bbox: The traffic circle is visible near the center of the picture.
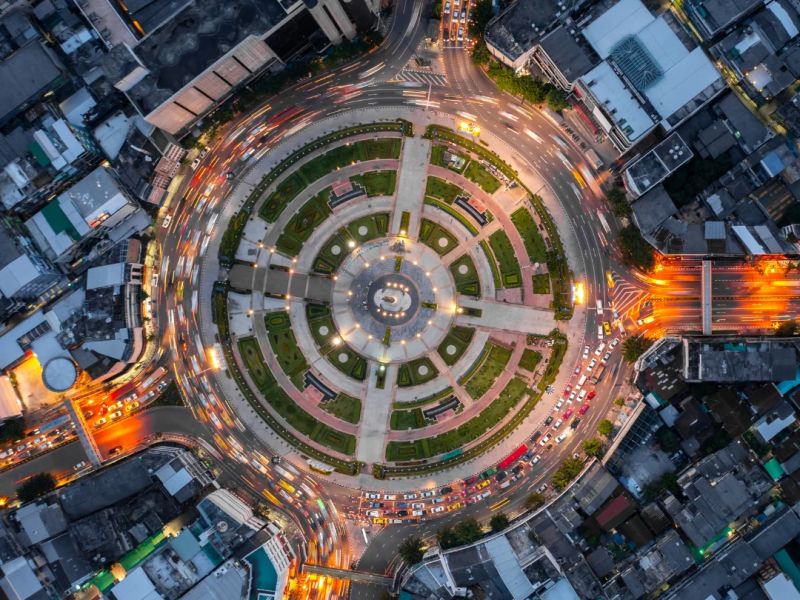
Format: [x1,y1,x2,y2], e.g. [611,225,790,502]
[145,45,647,539]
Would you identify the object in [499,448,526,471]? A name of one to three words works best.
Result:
bus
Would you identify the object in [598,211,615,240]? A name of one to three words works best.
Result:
vehicle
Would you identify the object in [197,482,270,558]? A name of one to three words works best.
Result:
building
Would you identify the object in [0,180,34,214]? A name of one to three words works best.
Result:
house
